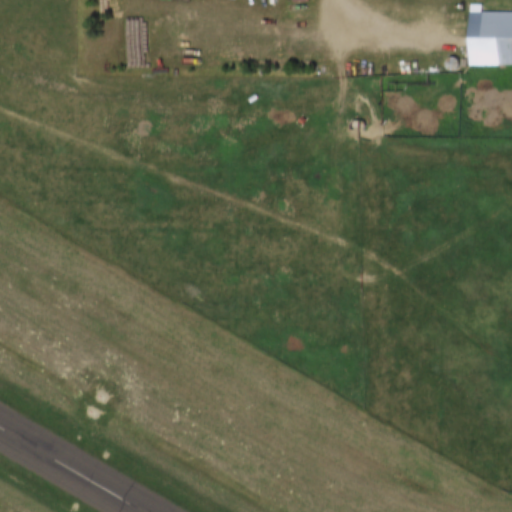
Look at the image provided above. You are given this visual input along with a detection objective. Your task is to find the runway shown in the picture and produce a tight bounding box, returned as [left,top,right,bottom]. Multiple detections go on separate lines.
[0,403,185,512]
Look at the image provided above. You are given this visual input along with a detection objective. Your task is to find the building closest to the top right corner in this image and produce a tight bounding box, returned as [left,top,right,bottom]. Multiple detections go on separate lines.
[466,3,512,68]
